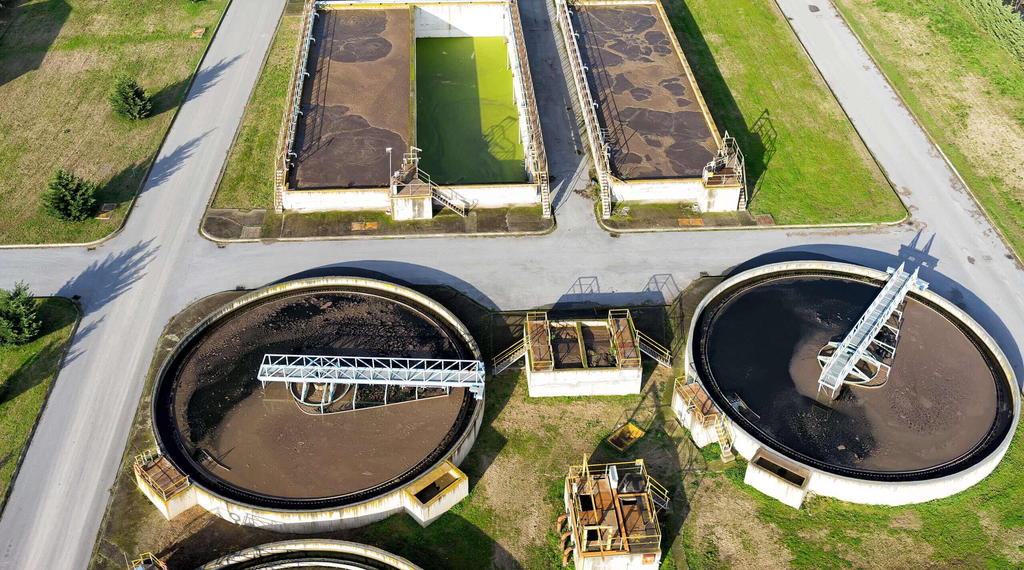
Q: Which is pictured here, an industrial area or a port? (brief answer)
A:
industrial area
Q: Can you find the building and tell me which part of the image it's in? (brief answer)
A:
bottom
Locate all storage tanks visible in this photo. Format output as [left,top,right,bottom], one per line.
[148,276,486,531]
[685,260,1021,503]
[194,539,426,570]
